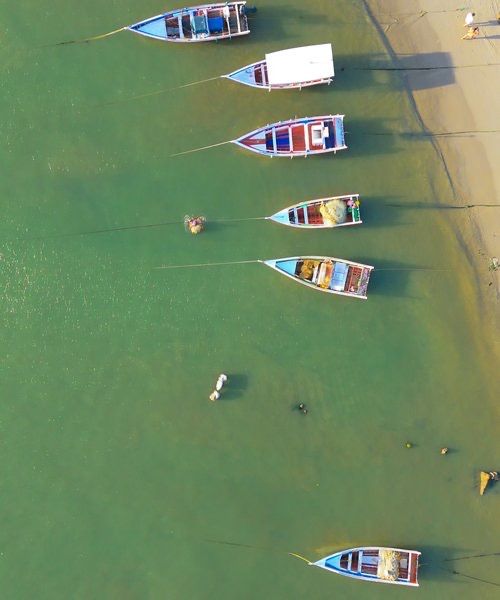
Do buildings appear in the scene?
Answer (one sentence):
No, no building can be seen from above.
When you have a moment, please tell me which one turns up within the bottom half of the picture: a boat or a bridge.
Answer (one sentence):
The feature located within the bottom half of the picture is a boat.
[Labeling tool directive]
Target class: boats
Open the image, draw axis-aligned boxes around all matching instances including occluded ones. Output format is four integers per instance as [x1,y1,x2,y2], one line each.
[222,45,336,91]
[308,550,422,585]
[125,1,267,39]
[264,195,363,228]
[260,257,375,298]
[229,112,349,158]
